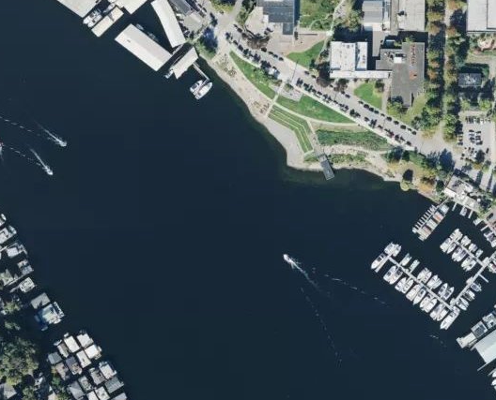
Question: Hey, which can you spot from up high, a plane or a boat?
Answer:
boat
